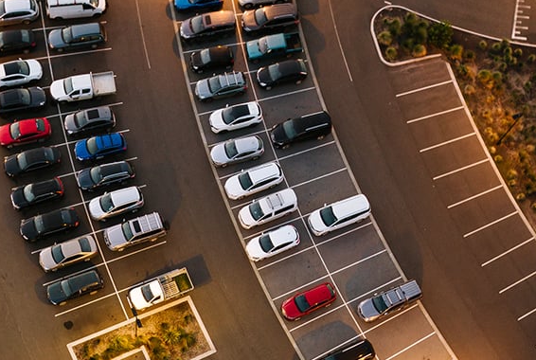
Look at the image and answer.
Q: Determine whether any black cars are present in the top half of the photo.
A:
Yes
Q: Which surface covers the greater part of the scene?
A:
paved ground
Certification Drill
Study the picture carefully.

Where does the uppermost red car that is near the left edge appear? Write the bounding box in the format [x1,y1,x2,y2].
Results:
[0,116,53,148]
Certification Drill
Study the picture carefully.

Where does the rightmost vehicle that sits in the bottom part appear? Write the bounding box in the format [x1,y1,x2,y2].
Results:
[354,278,426,323]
